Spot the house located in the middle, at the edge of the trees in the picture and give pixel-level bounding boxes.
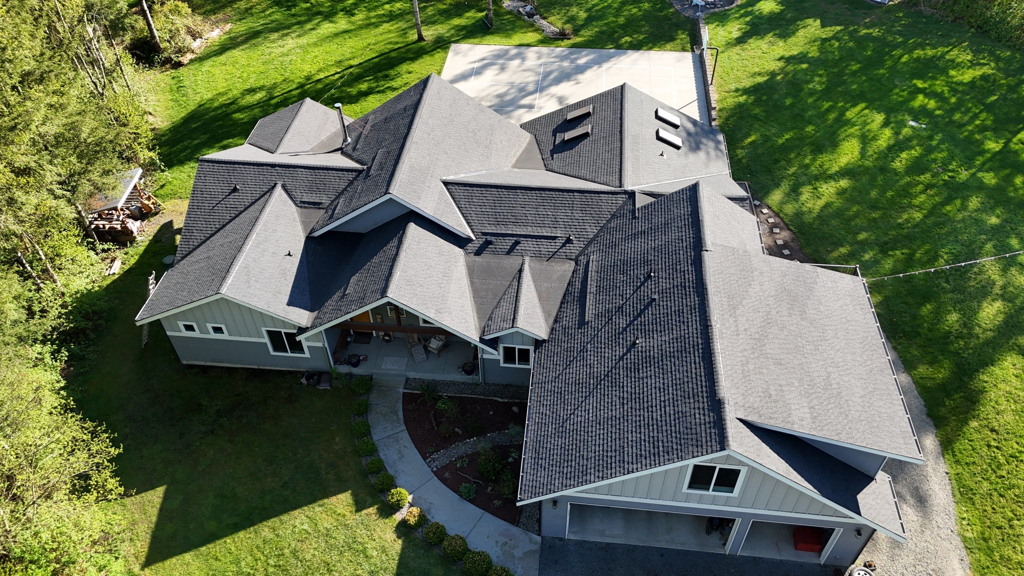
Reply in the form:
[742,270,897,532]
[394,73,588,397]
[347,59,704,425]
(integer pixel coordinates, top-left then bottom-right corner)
[135,72,928,565]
